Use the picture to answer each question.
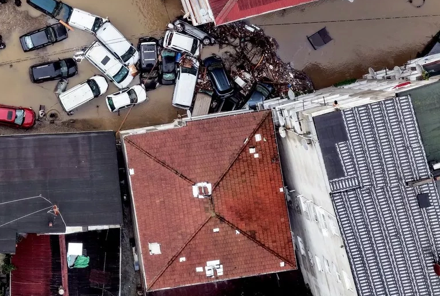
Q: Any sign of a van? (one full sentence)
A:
Yes, the image includes a van.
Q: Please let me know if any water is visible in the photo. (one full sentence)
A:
Yes, water shows up in the scene.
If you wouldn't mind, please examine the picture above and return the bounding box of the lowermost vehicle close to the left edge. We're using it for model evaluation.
[0,102,36,131]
